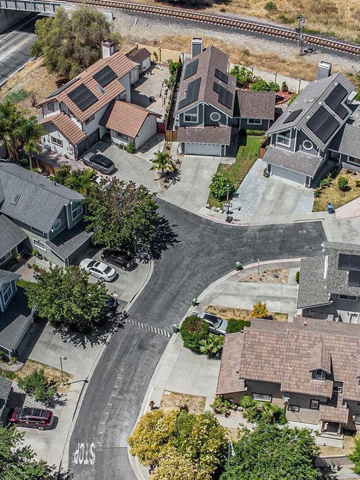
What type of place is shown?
residential area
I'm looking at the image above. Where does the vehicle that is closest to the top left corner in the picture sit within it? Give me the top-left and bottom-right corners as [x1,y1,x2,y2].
[83,152,116,175]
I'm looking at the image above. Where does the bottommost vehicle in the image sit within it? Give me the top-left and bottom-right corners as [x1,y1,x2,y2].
[8,405,56,431]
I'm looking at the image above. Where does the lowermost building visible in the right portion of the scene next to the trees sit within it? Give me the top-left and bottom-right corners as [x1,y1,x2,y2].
[213,313,360,444]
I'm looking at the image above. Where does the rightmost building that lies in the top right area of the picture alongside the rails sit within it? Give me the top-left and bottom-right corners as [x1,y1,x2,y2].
[264,61,360,188]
